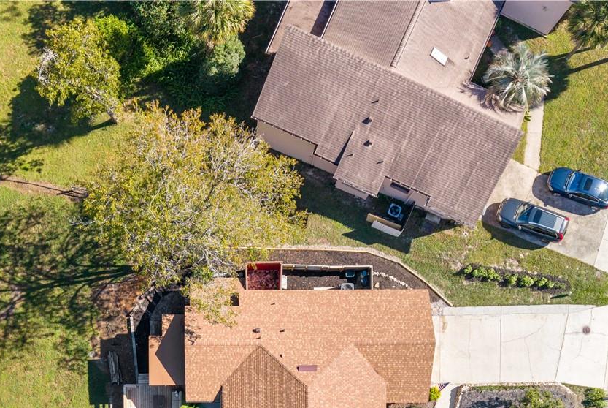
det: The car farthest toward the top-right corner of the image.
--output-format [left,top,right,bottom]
[548,167,608,214]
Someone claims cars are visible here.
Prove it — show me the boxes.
[548,167,608,214]
[498,200,579,245]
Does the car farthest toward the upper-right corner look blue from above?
Yes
